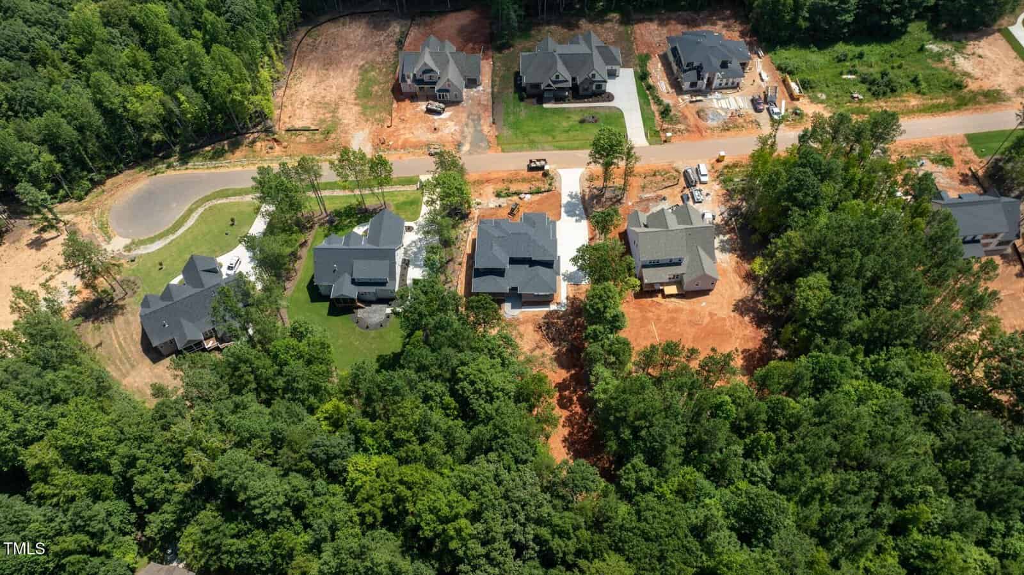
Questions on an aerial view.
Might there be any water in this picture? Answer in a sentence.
No, the picture contains no water.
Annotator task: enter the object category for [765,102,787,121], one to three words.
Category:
vehicle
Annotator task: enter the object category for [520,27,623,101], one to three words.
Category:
house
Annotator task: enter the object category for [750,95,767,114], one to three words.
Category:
vehicle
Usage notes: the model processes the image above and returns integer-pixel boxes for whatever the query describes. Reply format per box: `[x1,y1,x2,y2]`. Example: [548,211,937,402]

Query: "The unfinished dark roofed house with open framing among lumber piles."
[664,28,753,93]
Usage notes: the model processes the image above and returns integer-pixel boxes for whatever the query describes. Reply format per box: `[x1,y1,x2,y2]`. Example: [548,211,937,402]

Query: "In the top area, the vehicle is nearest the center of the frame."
[505,204,521,221]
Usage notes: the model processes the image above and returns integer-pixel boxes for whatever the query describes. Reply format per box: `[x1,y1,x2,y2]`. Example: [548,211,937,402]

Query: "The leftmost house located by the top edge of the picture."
[400,28,483,102]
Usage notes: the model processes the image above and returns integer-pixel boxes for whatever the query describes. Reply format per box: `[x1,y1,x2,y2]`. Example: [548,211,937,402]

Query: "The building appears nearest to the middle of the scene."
[471,213,562,299]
